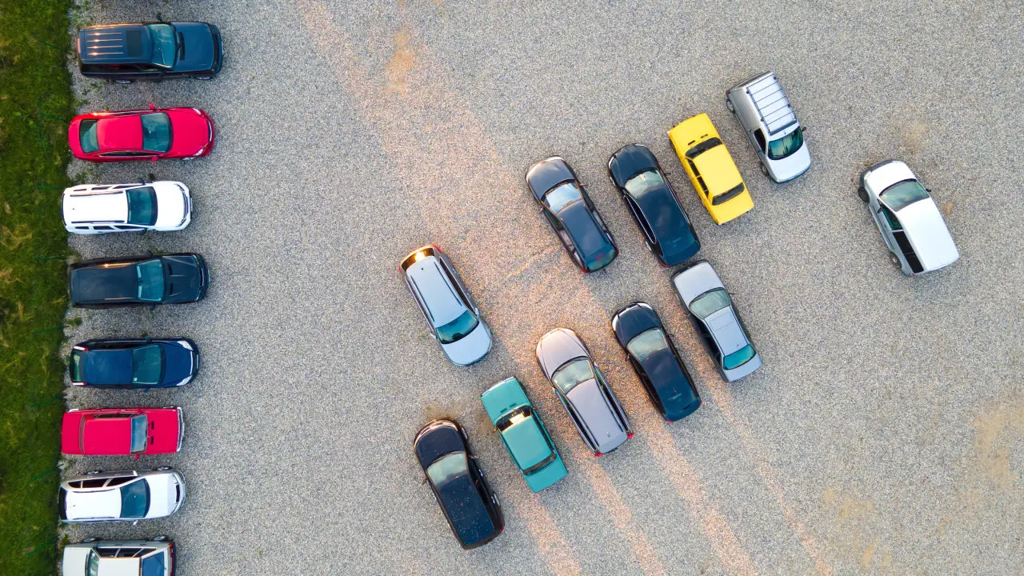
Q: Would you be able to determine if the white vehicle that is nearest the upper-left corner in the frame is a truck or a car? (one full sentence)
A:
The white vehicle that is nearest the upper-left corner can be classified as a car.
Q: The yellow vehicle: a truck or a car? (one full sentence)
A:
The yellow vehicle can be classified as a car.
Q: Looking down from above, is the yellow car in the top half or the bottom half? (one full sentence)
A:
The yellow car is in the top half of the image.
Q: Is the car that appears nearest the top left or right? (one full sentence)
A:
It is on the left.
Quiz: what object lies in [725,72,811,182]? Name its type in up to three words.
van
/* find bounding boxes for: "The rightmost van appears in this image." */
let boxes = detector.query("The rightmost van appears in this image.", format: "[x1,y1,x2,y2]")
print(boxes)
[858,163,961,276]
